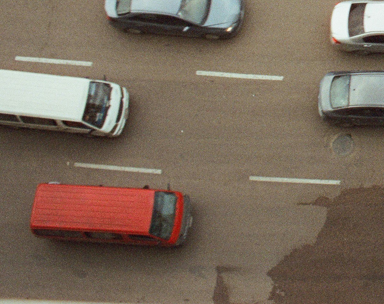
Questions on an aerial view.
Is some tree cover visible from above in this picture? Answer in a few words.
No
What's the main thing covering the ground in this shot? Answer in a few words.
paved ground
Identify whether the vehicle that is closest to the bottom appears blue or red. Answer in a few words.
red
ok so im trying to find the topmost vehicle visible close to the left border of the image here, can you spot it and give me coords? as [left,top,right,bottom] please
[0,71,129,138]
